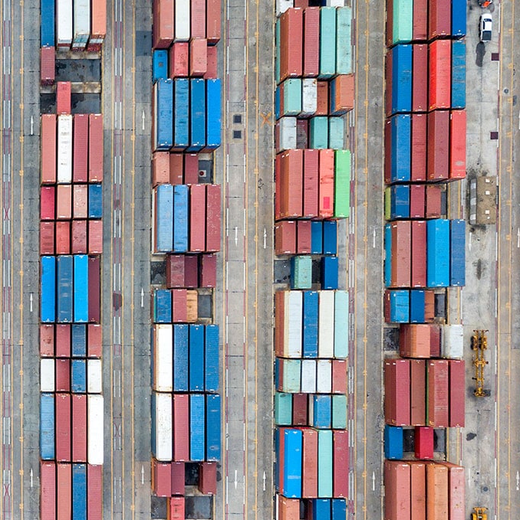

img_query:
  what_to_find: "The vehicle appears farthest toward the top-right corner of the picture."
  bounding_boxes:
[478,14,492,44]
